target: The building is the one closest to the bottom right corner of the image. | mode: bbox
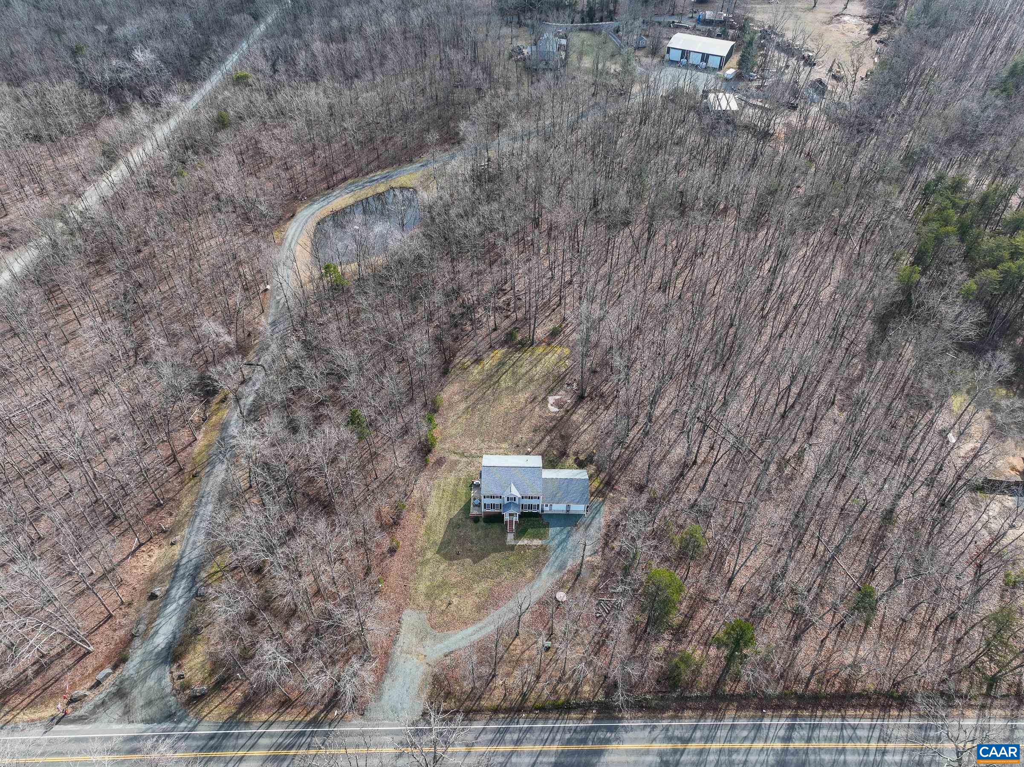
[471,455,589,534]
